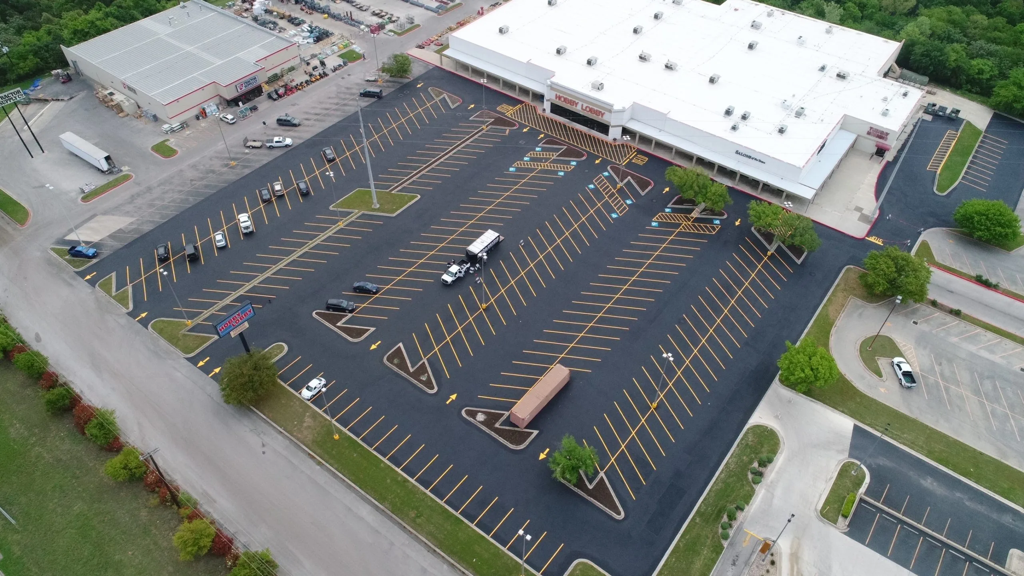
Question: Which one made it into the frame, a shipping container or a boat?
shipping container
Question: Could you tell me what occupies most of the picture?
paved ground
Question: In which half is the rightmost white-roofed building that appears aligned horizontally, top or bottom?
top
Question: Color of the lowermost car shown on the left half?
white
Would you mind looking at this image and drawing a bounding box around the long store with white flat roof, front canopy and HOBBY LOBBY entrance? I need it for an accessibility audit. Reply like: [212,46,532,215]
[442,0,928,202]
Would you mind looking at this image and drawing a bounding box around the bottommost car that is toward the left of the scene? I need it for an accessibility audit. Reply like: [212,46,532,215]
[300,375,328,399]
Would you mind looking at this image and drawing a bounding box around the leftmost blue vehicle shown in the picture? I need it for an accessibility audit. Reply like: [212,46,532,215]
[64,244,99,259]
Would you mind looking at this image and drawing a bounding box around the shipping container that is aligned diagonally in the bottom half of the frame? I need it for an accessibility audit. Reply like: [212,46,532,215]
[510,363,569,429]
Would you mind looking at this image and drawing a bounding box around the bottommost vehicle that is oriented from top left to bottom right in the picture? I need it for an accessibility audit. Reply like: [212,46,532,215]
[891,355,920,386]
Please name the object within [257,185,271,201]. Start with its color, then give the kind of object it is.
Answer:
gray car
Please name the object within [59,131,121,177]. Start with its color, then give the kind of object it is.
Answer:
white trailer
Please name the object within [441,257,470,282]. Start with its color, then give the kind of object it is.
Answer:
white truck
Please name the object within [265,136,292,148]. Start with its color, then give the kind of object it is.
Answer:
white vehicle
